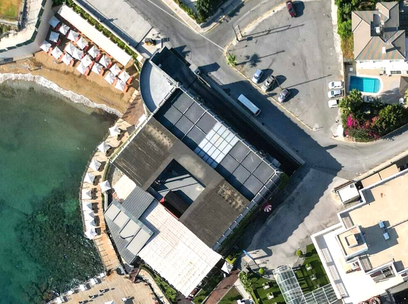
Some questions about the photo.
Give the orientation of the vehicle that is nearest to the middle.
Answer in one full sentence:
From this overhead view, the vehicle that is nearest to the middle appears to run diagonally.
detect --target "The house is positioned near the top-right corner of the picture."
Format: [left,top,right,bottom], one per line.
[352,2,408,77]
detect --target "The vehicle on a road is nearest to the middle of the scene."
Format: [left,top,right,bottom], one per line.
[236,90,262,118]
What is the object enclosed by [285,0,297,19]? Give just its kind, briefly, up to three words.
vehicle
